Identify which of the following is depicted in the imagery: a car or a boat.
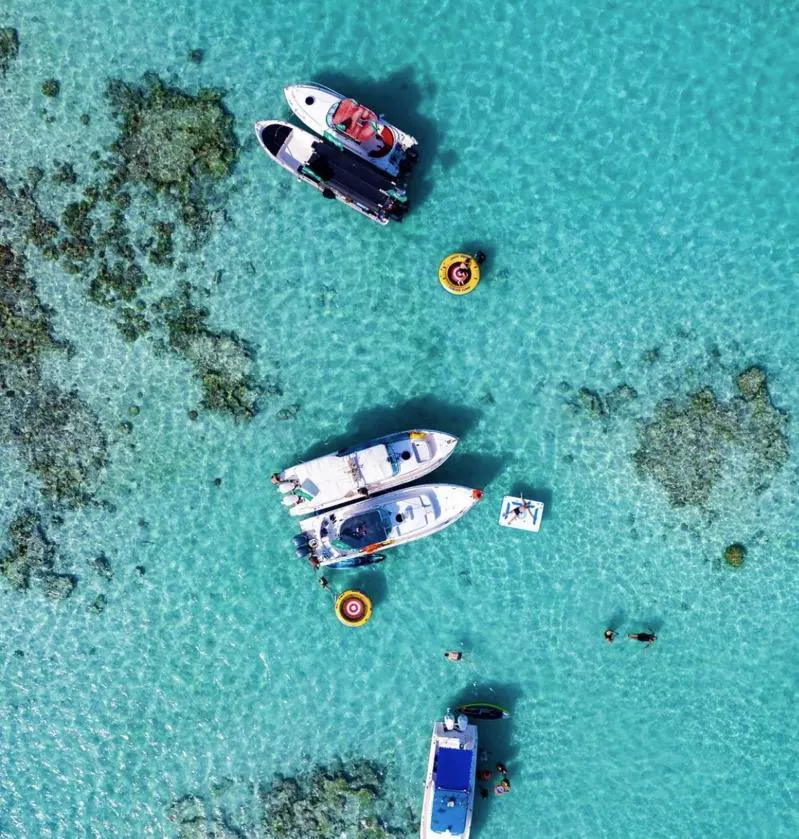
boat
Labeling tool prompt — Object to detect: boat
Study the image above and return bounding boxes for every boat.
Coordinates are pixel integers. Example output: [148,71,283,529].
[270,428,461,515]
[328,554,385,570]
[455,703,511,719]
[284,80,424,181]
[293,484,483,567]
[422,709,477,839]
[254,118,411,226]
